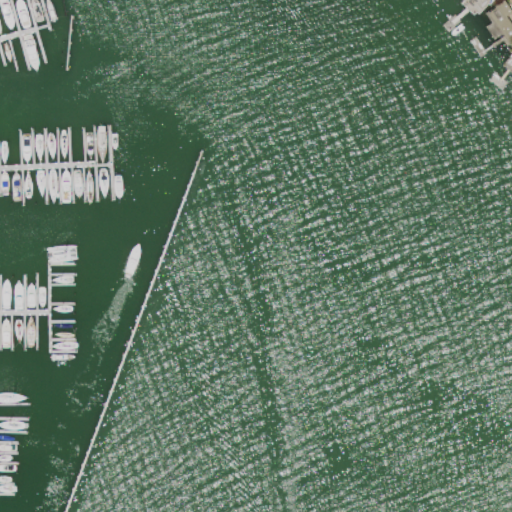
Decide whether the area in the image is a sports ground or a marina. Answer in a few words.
marina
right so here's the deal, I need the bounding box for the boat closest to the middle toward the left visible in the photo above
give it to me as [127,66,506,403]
[124,244,141,280]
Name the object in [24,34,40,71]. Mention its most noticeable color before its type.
white boat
